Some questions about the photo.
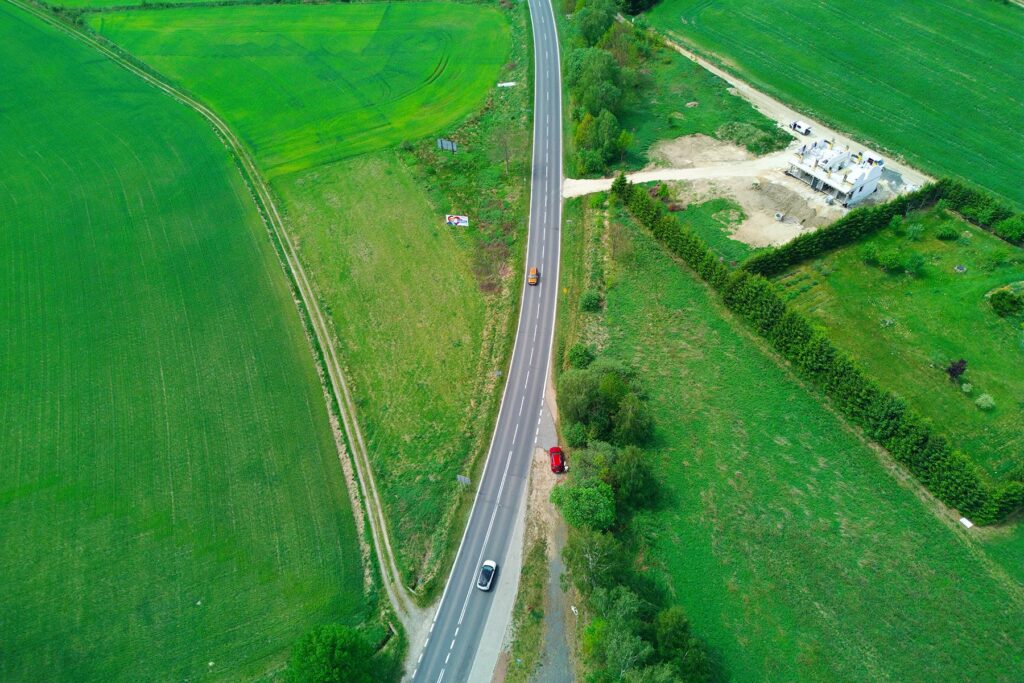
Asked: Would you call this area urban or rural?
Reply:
rural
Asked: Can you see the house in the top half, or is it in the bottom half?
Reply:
top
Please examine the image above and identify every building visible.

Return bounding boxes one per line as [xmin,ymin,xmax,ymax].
[783,138,882,206]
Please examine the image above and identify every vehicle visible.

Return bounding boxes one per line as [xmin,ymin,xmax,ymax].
[550,448,564,474]
[527,267,538,284]
[477,561,496,592]
[790,121,812,135]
